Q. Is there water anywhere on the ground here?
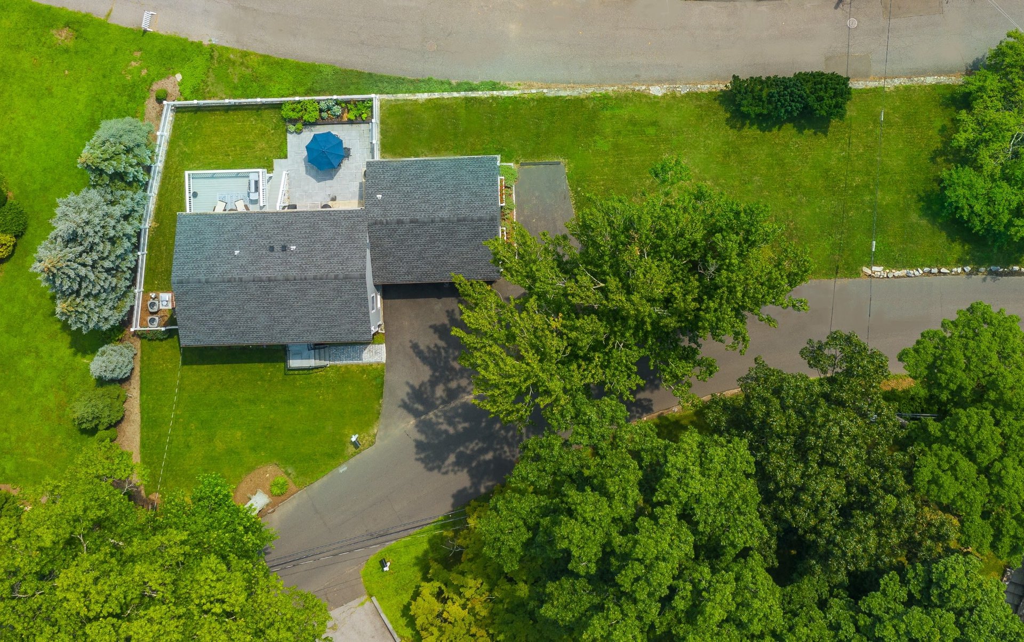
No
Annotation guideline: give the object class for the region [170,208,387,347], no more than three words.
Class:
house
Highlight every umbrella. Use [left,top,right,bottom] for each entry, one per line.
[305,132,345,172]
